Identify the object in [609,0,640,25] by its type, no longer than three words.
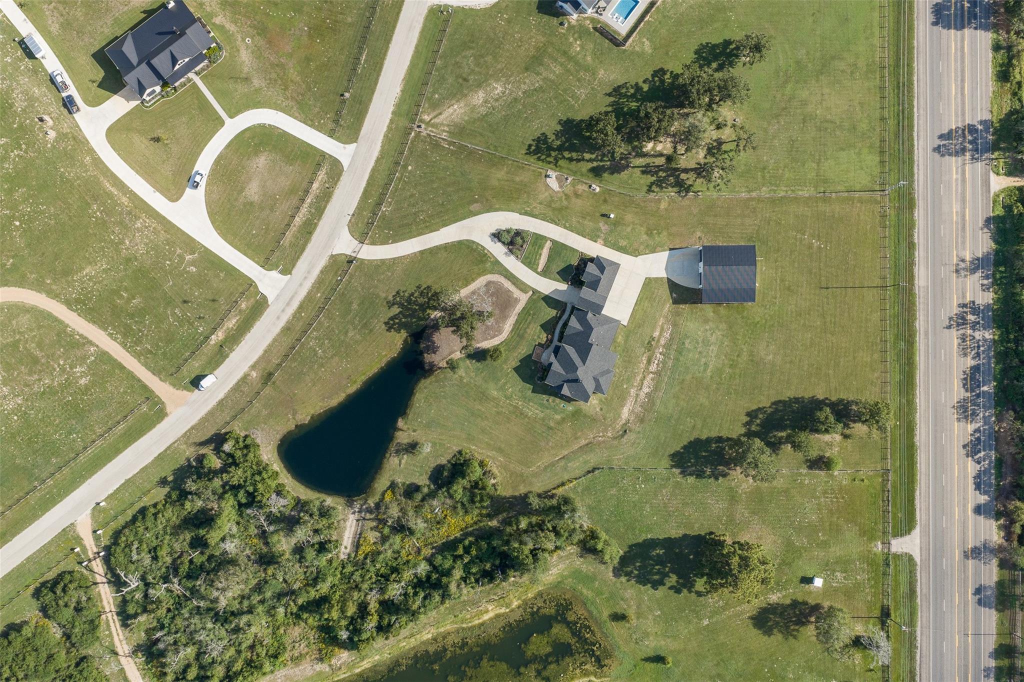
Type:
swimming pool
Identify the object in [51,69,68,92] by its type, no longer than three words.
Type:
vehicle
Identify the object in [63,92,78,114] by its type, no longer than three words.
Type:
vehicle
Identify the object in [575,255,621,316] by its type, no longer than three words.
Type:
building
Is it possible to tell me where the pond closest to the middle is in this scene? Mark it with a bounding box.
[277,325,434,497]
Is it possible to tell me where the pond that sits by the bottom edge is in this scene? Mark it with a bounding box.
[358,585,619,682]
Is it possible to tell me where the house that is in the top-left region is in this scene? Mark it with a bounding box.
[104,0,215,99]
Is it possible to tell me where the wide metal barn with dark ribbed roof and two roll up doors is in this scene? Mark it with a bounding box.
[699,245,763,303]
